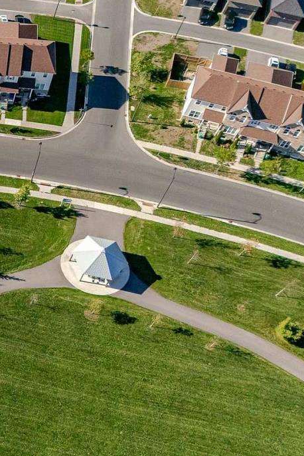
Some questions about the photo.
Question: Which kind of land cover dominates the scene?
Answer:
grass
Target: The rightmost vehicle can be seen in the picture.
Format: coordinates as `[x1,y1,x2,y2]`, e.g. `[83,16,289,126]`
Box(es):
[283,58,296,74]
